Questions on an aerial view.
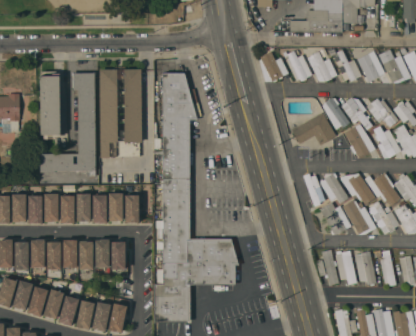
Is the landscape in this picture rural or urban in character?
urban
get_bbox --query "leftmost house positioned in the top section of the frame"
[0,86,21,124]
